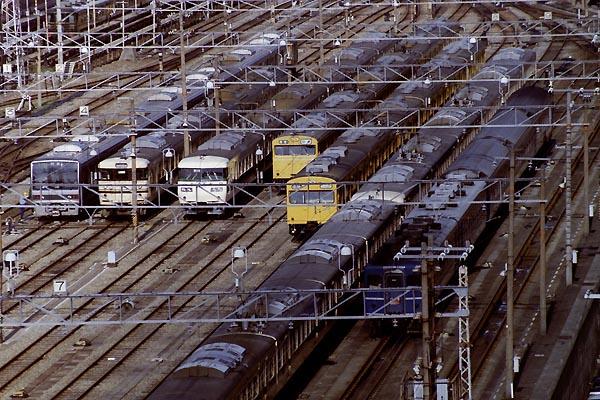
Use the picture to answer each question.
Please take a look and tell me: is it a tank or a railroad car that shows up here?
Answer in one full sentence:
This aerial view contains a railroad car.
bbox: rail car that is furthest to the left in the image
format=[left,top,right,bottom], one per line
[31,134,129,218]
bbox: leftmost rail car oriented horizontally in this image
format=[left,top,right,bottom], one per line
[89,111,171,143]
